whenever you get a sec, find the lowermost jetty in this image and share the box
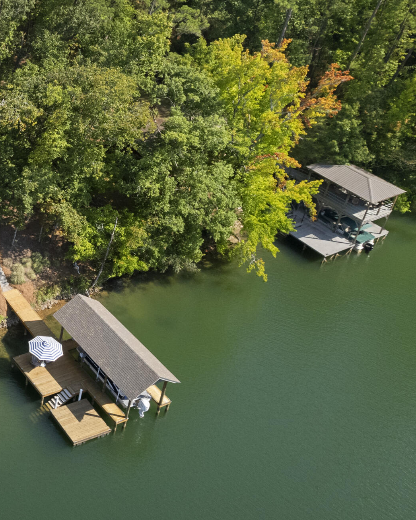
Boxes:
[50,399,113,448]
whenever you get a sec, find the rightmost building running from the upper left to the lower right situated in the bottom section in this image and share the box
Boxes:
[52,295,181,426]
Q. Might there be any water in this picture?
Yes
